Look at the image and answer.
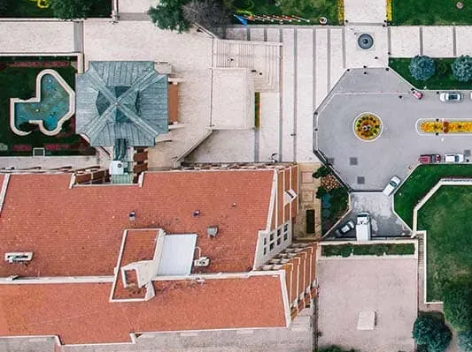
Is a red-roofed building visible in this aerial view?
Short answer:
Yes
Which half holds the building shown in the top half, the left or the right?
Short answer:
left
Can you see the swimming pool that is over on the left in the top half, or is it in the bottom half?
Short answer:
top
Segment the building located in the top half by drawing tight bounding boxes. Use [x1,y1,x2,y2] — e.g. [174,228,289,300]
[75,60,186,178]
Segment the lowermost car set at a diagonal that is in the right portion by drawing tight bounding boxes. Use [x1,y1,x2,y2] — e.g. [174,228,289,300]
[334,219,355,238]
